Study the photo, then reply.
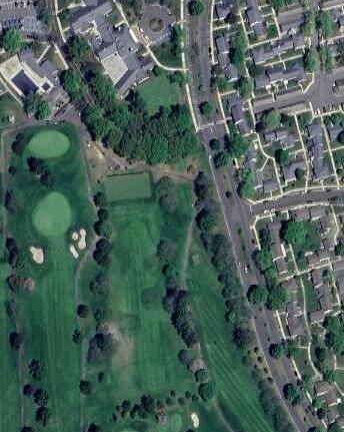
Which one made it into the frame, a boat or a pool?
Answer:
pool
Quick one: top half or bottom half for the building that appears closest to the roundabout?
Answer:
top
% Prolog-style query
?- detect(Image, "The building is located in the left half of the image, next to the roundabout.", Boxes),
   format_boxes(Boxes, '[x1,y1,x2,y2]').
[69,0,144,87]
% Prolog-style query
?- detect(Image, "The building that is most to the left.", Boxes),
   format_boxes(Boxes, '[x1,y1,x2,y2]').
[17,45,60,87]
